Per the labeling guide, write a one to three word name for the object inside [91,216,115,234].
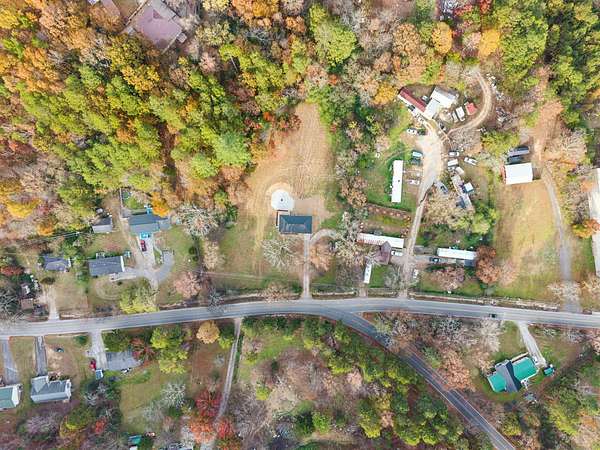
shed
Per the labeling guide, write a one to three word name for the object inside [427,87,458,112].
building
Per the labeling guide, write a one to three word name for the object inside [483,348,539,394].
house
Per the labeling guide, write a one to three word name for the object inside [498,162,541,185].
barn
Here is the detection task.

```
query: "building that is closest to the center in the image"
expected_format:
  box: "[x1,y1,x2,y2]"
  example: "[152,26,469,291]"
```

[279,214,312,235]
